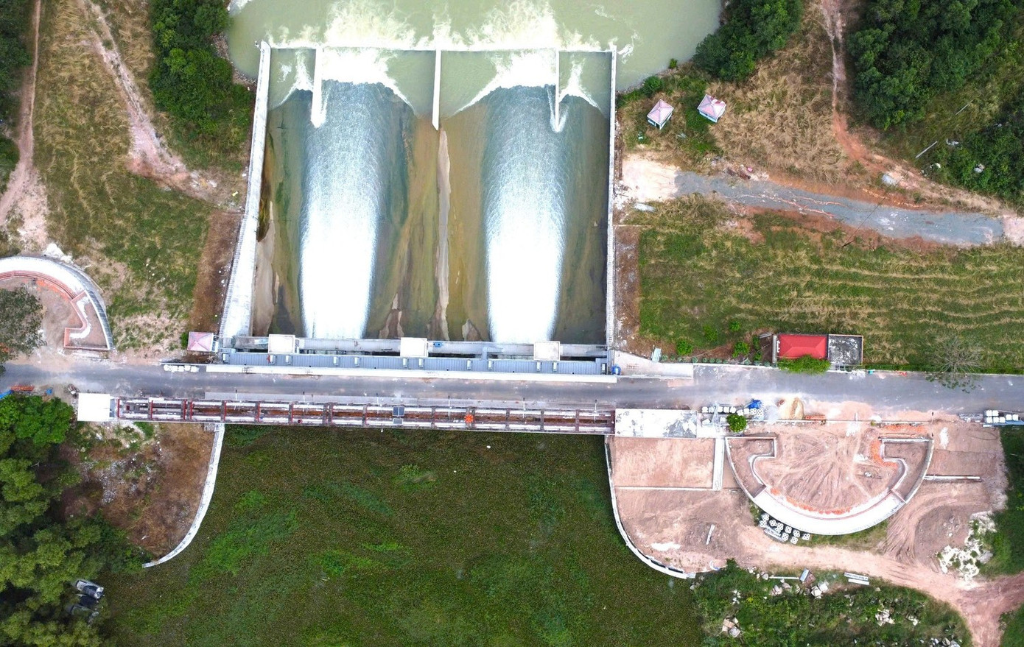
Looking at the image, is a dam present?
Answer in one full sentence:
Yes, this view includes a dam.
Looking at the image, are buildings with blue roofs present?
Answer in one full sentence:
No, this view has no building with a blue roof in it.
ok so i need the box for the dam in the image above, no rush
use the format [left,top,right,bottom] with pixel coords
[205,42,617,410]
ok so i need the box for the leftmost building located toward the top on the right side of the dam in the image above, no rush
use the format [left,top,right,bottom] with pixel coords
[647,99,674,131]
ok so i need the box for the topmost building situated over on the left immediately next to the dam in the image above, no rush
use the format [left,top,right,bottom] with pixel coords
[187,332,219,352]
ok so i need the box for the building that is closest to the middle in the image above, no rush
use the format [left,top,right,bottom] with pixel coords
[615,409,696,437]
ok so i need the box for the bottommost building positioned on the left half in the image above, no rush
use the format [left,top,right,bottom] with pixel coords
[77,393,122,421]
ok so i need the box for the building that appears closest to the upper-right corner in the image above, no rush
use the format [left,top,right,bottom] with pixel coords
[696,94,726,124]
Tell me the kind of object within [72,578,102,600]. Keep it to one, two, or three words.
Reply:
car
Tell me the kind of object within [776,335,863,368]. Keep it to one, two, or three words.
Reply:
house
